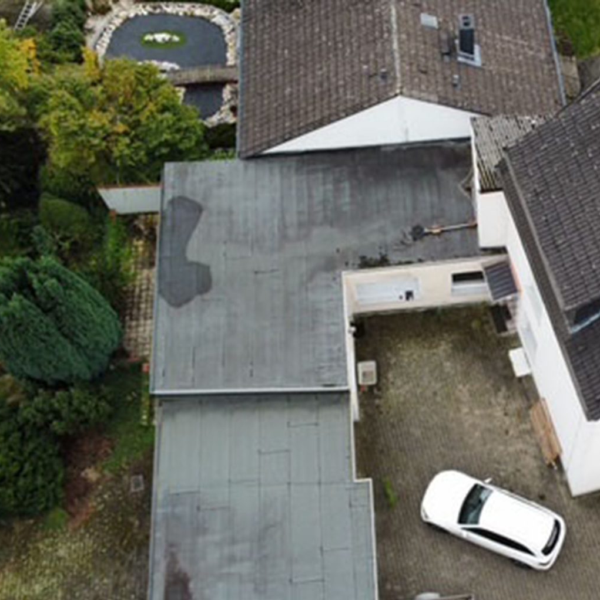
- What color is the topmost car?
white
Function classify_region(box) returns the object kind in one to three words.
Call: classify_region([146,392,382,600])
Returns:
building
